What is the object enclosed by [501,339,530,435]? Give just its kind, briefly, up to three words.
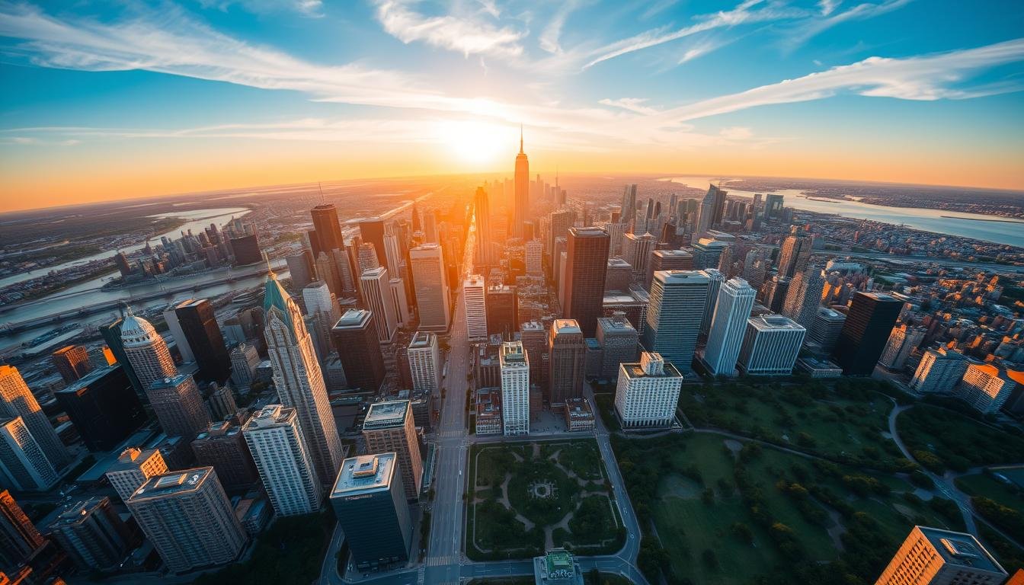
building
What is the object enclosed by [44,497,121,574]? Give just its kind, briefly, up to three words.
building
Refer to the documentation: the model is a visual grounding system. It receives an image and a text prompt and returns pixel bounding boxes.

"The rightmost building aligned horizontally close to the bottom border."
[884,526,1009,585]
